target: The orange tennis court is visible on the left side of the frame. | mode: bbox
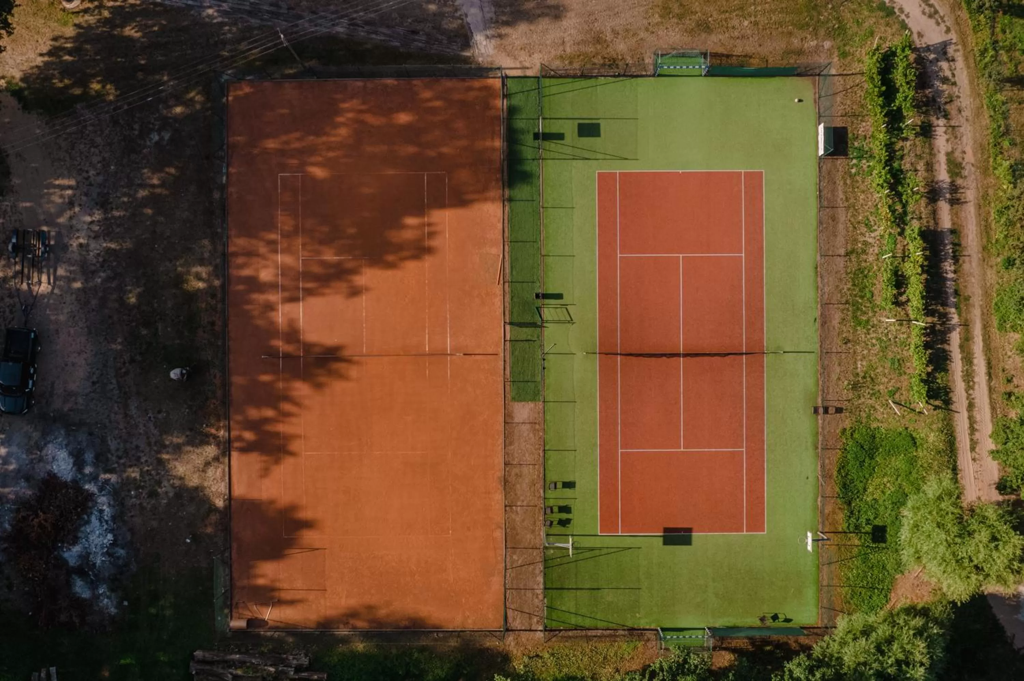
[225,76,504,632]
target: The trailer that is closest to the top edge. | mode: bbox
[7,228,48,330]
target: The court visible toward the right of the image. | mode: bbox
[540,76,822,629]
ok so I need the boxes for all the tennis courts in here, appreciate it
[540,76,822,629]
[225,76,504,632]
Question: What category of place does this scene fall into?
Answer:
sports ground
